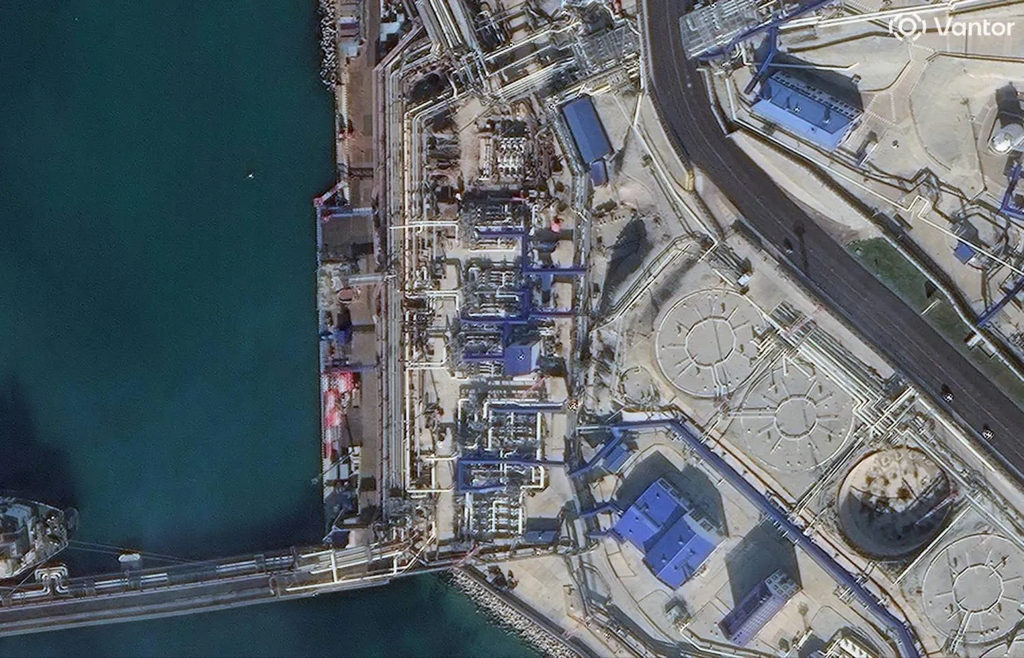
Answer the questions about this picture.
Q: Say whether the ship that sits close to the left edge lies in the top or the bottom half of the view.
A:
bottom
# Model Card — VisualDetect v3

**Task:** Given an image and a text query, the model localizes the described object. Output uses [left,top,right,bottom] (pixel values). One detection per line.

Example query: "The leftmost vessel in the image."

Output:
[0,494,72,578]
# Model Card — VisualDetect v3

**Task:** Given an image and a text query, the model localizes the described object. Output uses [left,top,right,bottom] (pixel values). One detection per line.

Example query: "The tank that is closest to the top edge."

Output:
[989,121,1024,156]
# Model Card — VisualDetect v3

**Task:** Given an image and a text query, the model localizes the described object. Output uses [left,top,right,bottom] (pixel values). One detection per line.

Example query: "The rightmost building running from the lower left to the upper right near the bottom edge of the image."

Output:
[721,571,794,645]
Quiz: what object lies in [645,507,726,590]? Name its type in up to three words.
building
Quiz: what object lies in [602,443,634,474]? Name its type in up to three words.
building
